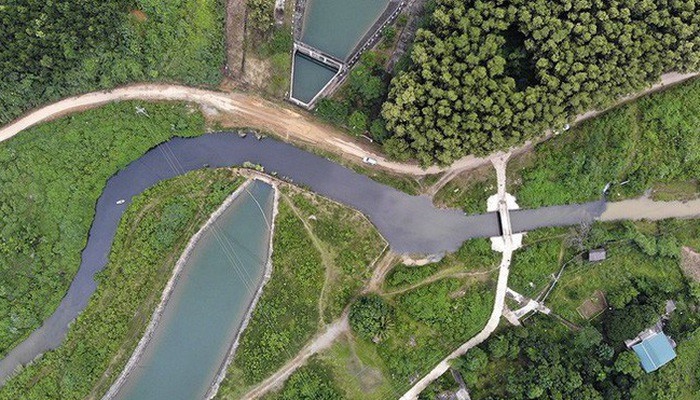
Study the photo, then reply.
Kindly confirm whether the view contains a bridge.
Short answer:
Yes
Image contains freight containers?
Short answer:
No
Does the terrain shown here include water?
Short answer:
Yes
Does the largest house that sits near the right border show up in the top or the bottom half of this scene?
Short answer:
bottom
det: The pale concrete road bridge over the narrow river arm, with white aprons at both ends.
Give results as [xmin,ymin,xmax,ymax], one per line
[485,191,522,255]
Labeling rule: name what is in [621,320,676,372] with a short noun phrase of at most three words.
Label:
house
